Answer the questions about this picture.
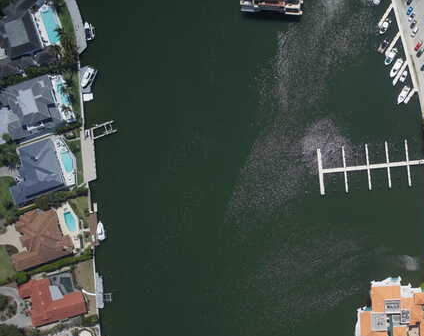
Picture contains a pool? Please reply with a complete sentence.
Yes, I can see a pool in this picture.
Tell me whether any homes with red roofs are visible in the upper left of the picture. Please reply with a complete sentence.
No, no home with a red roof can be made out in the upper left of the picture.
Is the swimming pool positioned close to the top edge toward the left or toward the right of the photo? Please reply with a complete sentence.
It is on the left.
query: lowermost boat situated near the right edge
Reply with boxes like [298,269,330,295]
[398,84,412,103]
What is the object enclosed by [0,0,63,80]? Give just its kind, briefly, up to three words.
house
